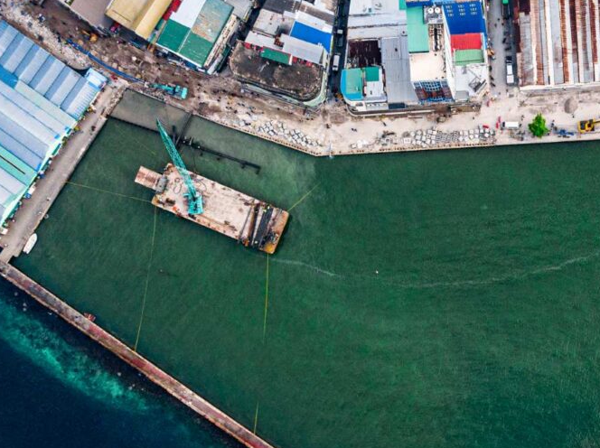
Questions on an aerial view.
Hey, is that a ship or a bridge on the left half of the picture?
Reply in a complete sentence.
What appears on the left half of the picture is a ship.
